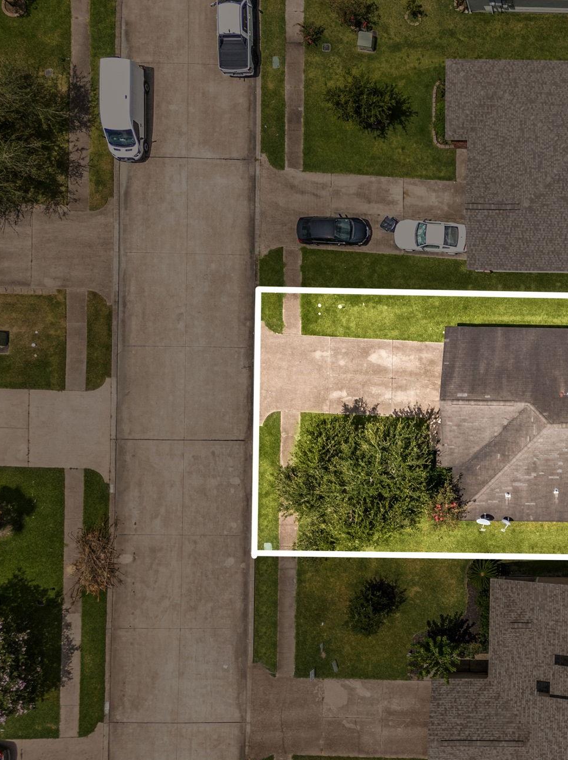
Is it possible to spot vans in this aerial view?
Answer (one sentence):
Yes, the frame does contain a van.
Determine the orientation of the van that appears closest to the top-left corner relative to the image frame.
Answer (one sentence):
The van that appears closest to the top-left corner is laid out vertically.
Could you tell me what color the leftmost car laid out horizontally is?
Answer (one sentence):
The leftmost car laid out horizontally is black.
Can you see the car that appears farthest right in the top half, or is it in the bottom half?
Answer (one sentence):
Seen from above, the car that appears farthest right lies in the top half of the view.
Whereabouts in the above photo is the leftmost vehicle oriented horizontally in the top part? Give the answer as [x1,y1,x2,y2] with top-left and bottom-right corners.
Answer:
[298,214,374,250]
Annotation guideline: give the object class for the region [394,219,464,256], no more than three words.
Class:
car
